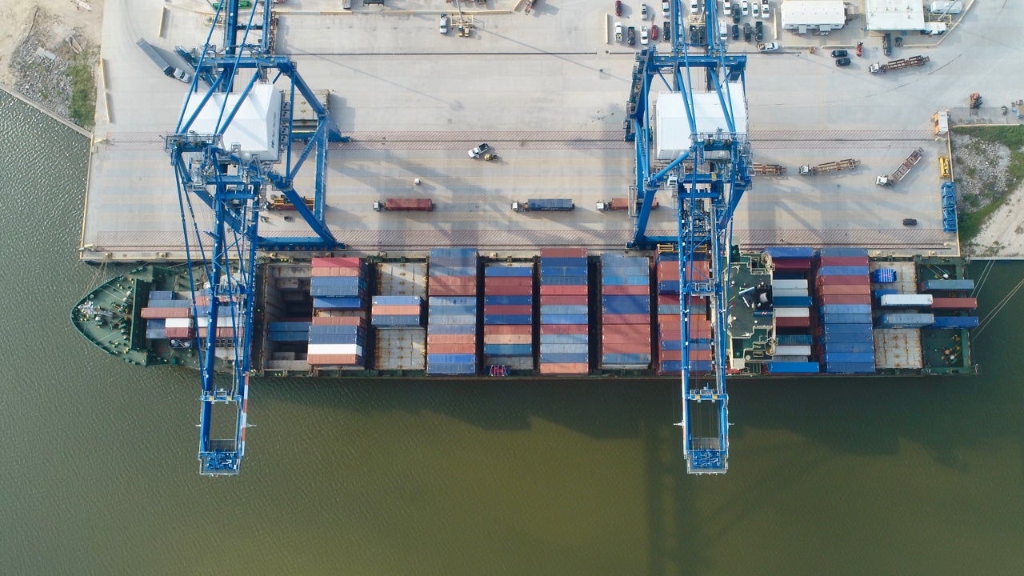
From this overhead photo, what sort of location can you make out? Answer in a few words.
port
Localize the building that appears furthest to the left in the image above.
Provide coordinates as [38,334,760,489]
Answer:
[782,1,845,38]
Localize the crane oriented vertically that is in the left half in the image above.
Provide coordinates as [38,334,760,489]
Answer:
[169,0,349,475]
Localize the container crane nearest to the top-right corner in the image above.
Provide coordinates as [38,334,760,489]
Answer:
[614,0,755,476]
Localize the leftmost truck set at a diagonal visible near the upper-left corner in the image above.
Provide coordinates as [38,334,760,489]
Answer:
[132,35,180,82]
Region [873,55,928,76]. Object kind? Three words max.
truck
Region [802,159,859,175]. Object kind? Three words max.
vehicle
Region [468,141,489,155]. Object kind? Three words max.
vehicle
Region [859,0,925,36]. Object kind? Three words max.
shed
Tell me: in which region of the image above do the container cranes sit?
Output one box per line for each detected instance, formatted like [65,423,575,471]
[614,0,755,476]
[169,0,349,475]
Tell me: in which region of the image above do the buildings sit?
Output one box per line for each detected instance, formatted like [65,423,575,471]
[929,108,951,134]
[782,1,845,38]
[859,0,925,36]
